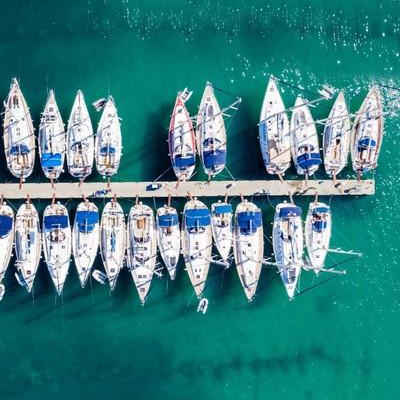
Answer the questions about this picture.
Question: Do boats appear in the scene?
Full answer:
Yes, there is a boat in the image.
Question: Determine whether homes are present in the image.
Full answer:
No, no home can be seen from above.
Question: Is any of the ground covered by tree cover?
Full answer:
No, no tree cover is visible.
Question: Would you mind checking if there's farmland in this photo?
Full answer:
No, the picture contains no farmland.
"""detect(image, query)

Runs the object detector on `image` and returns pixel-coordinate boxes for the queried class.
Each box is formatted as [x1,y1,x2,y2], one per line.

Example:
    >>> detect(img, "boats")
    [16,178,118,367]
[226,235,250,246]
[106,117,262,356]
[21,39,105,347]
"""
[319,82,386,184]
[234,191,286,313]
[38,78,66,187]
[14,193,42,304]
[305,190,359,285]
[41,194,71,309]
[91,98,108,111]
[291,90,342,184]
[0,71,38,189]
[72,194,99,298]
[182,191,222,310]
[64,81,96,186]
[169,87,202,187]
[209,191,241,277]
[12,270,26,289]
[124,192,158,316]
[259,66,319,184]
[318,83,336,99]
[197,299,209,316]
[0,281,8,298]
[270,191,342,310]
[0,195,18,282]
[348,79,400,183]
[92,93,122,186]
[197,71,240,186]
[99,194,128,300]
[92,269,108,286]
[181,88,192,102]
[159,191,186,290]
